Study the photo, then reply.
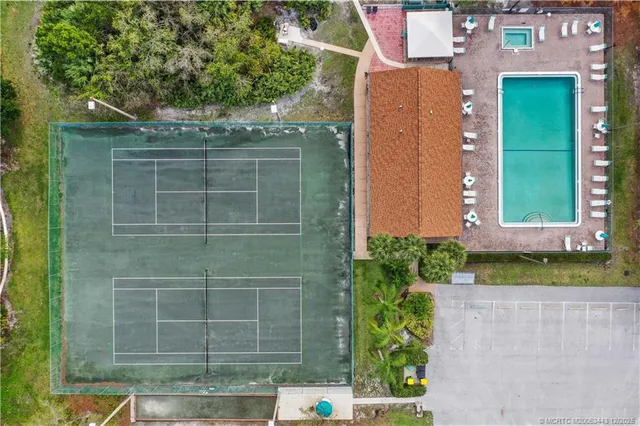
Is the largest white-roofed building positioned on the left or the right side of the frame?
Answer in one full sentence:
The largest white-roofed building appears in the right half of the scene.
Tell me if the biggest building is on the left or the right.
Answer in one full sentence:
The biggest building sits on the right side.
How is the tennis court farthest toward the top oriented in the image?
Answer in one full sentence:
The tennis court farthest toward the top runs horizontally in the image.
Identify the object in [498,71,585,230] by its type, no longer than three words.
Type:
swimming pool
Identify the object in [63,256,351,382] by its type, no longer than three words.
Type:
tennis court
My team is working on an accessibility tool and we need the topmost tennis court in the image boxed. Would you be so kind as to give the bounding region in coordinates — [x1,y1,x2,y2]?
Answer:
[62,127,351,256]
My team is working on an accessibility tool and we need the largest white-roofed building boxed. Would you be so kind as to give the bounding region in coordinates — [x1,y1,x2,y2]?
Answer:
[404,11,454,63]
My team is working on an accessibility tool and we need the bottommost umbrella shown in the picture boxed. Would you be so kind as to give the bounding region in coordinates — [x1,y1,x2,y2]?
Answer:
[315,400,332,417]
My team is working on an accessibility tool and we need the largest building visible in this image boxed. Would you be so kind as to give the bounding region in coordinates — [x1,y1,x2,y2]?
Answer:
[369,66,464,238]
